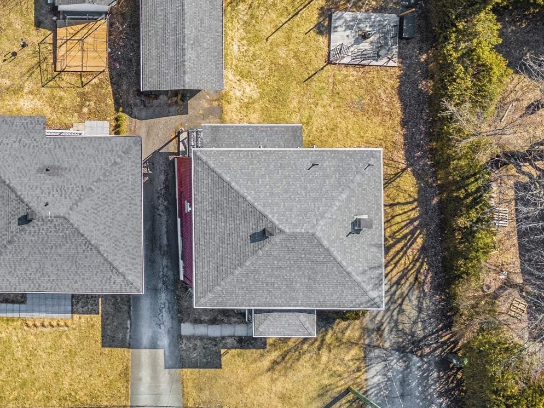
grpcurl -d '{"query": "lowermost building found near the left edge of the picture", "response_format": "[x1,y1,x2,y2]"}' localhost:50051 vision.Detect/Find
[0,116,145,293]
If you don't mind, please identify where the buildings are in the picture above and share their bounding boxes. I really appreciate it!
[138,0,225,90]
[172,124,386,338]
[0,116,145,293]
[55,0,116,11]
